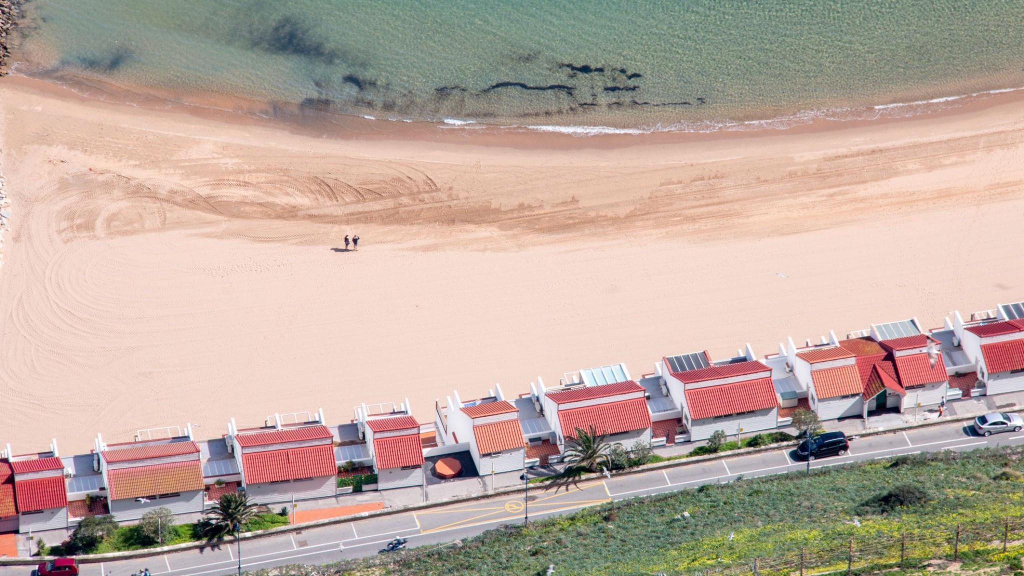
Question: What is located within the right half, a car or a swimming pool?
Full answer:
It is a car that can be seen within the right half.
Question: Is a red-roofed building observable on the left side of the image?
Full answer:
Yes, a red-roofed building is visible on the left side of the image.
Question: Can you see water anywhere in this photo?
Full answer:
Yes, there is water in the image.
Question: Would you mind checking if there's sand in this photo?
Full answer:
Yes, sand can be seen from above here.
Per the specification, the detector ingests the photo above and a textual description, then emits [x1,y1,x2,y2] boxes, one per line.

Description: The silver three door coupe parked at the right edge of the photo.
[975,412,1024,436]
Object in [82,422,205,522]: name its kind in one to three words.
house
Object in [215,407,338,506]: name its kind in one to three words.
house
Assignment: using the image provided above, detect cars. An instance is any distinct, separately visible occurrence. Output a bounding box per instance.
[35,558,79,576]
[975,412,1024,436]
[801,430,849,460]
